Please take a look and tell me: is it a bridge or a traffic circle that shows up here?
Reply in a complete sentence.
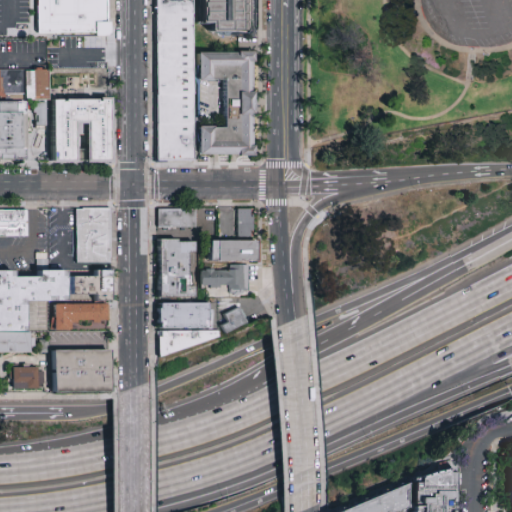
Of the two, only a bridge appears.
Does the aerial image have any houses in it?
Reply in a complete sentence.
Yes, there's a house here.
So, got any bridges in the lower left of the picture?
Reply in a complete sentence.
Yes, a bridge is visible in the lower left of the picture.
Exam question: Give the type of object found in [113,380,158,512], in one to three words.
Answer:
bridge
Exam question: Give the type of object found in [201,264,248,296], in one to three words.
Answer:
house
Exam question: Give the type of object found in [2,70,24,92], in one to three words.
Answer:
building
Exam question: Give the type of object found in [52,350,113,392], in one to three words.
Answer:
building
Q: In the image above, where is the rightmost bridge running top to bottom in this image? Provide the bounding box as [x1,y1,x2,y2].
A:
[271,314,326,506]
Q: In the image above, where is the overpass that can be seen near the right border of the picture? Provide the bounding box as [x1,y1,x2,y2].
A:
[466,236,512,273]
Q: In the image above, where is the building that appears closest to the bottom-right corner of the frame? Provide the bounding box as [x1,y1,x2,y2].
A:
[418,468,462,512]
